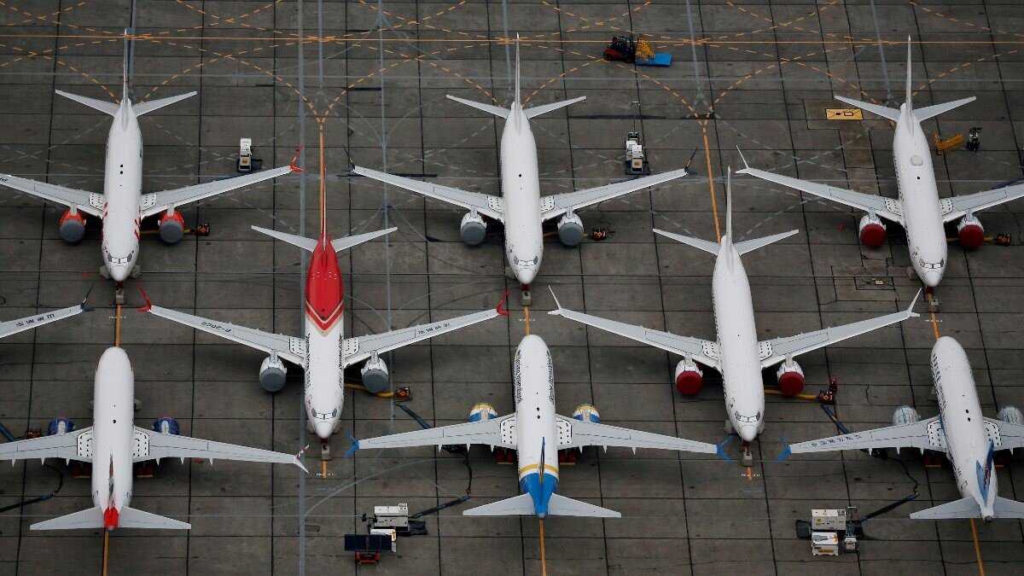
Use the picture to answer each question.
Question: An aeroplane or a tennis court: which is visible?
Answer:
aeroplane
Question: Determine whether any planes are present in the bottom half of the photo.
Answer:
Yes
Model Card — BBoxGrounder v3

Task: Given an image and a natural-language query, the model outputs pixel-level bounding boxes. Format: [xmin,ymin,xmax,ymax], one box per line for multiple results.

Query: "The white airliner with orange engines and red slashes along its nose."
[0,28,303,292]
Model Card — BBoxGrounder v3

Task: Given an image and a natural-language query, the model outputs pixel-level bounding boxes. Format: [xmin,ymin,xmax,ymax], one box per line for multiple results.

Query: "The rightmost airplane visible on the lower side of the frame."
[778,334,1024,524]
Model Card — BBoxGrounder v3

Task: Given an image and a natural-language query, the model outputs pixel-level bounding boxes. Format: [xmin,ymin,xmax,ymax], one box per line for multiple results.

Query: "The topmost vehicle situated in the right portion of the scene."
[601,30,645,64]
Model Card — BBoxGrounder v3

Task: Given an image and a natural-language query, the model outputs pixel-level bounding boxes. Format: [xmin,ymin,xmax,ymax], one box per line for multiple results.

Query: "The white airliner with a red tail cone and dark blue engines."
[0,342,308,534]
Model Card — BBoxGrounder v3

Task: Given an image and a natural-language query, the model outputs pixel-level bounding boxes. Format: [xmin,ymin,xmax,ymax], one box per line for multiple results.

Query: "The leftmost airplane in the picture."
[0,282,97,342]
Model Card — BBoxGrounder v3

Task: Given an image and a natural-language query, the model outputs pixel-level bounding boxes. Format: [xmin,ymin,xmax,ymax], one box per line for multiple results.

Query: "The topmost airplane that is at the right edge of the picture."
[737,32,1024,298]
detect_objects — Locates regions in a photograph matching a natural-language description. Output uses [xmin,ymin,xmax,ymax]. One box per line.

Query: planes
[341,31,698,296]
[0,282,97,342]
[137,160,510,445]
[737,32,1024,298]
[0,342,308,534]
[0,28,303,292]
[344,331,734,521]
[549,162,921,448]
[778,334,1024,524]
